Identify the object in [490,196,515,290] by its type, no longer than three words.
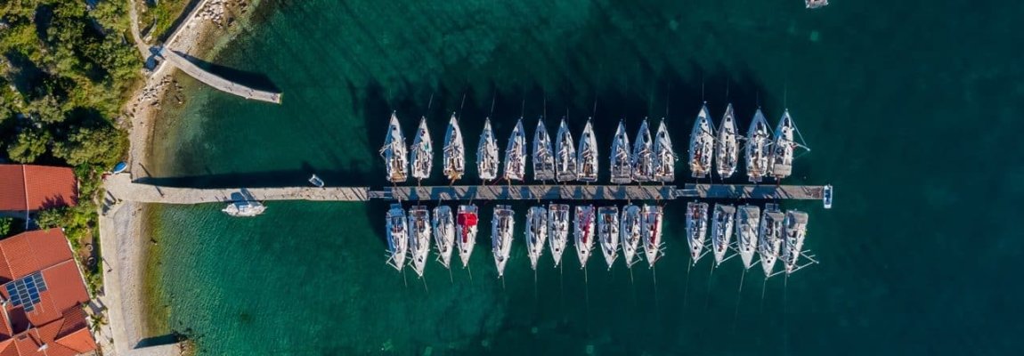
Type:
boat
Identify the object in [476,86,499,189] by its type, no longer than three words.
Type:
boat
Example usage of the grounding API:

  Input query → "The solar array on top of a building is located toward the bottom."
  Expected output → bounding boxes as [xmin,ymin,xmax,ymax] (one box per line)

[6,272,47,309]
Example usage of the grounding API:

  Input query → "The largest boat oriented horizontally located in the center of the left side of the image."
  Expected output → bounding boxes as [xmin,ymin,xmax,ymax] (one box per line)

[220,201,267,217]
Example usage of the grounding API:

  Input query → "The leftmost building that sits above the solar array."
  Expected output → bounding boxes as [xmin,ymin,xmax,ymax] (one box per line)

[0,164,81,211]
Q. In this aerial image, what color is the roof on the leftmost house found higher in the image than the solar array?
red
